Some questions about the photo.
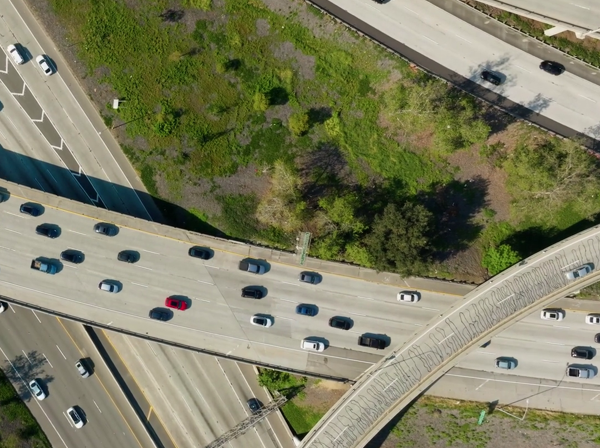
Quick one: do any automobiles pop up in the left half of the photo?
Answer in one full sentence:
Yes, an automobile appears in the left half of the photo.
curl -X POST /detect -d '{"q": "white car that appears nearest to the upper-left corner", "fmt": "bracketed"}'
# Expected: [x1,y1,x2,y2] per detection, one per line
[6,43,24,66]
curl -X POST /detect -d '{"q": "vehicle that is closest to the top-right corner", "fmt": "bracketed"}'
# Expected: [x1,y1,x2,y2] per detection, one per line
[539,59,562,75]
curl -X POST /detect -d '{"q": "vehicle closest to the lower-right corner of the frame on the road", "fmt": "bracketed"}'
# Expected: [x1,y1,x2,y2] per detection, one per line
[567,366,595,378]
